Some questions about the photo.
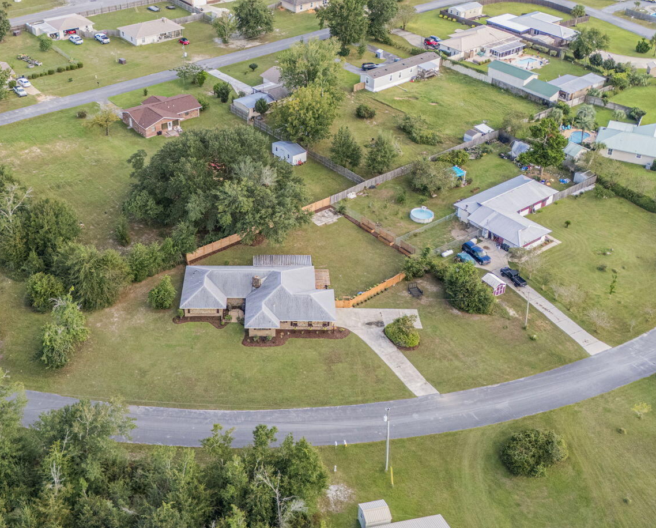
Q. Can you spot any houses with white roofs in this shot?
Yes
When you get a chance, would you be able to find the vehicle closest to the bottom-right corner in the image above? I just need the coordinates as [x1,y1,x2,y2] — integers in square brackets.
[496,263,531,288]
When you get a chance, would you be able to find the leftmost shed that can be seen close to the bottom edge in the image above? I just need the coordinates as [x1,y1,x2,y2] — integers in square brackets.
[355,497,392,528]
